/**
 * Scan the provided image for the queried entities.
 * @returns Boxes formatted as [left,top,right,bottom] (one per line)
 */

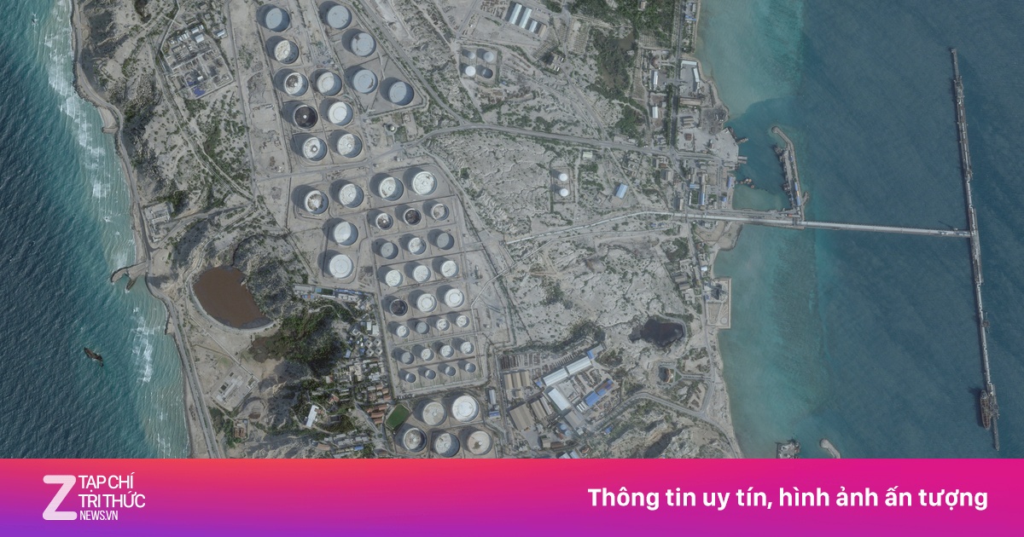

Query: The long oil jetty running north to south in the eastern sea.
[952,48,998,449]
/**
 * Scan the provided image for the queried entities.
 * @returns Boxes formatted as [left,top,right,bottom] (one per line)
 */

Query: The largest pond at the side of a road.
[193,266,270,328]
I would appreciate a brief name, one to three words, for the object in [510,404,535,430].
building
